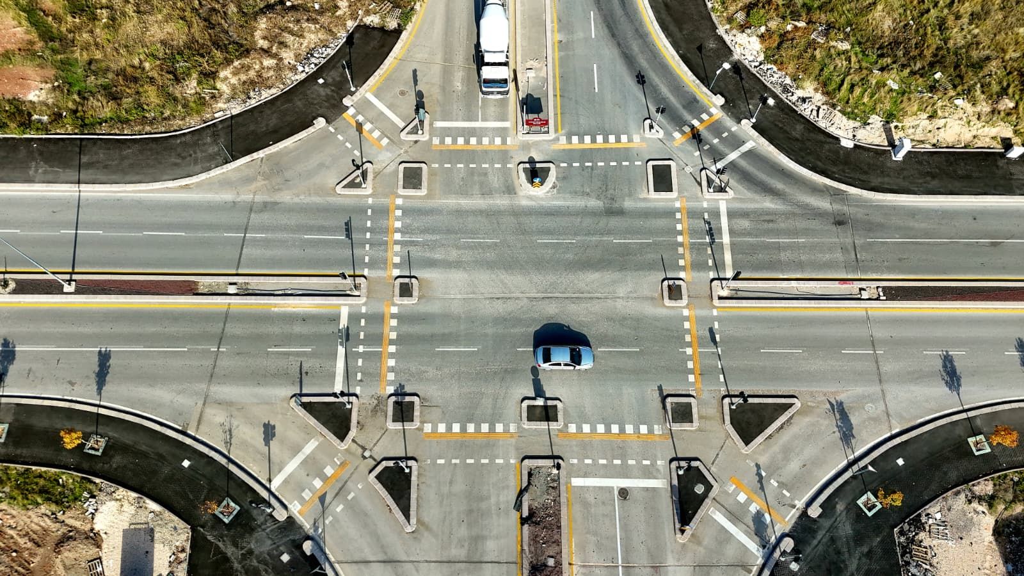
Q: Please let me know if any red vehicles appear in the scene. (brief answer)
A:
No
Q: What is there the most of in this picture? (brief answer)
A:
paved ground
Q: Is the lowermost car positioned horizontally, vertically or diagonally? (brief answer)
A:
horizontally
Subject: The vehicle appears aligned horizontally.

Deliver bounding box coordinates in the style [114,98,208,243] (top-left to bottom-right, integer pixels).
[534,344,594,372]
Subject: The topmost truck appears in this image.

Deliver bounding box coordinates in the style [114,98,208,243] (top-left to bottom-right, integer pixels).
[477,0,512,98]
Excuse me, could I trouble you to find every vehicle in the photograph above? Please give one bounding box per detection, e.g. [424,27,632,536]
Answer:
[477,0,512,98]
[534,344,594,372]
